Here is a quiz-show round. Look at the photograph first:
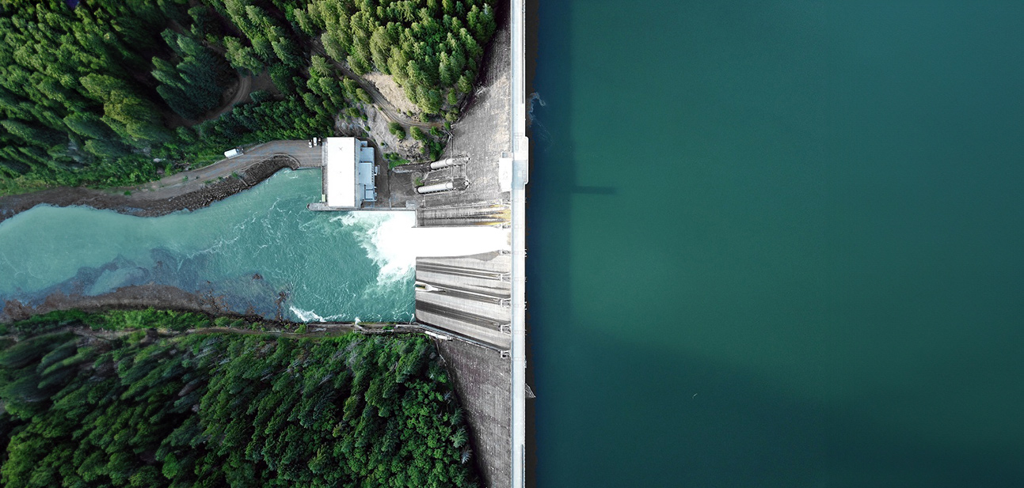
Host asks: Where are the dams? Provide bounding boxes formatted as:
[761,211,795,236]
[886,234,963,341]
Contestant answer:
[409,0,540,488]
